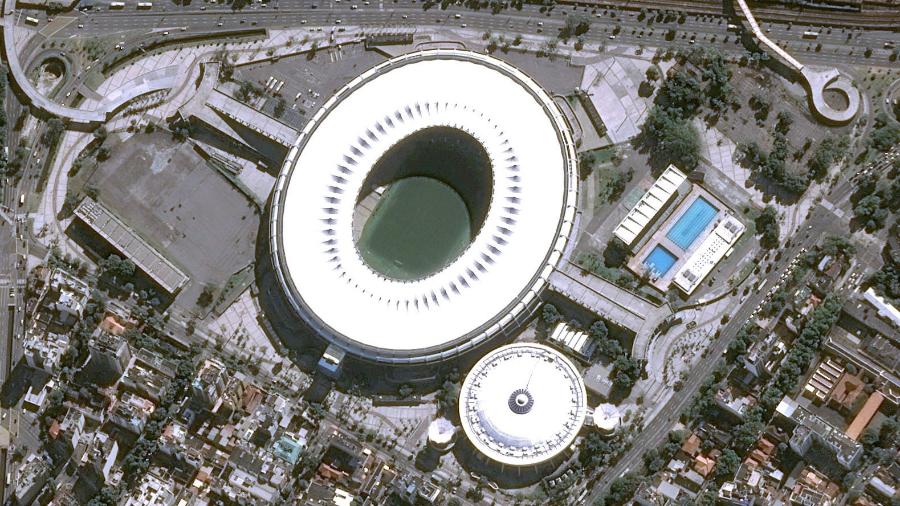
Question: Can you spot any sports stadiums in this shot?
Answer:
Yes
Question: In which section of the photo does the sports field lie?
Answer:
center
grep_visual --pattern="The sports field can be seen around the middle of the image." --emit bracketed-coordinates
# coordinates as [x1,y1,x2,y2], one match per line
[368,158,478,275]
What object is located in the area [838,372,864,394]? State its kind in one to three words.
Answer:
house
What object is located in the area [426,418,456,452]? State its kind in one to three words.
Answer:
building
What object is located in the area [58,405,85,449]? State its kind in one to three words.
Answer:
building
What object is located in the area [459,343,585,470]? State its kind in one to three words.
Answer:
stadium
